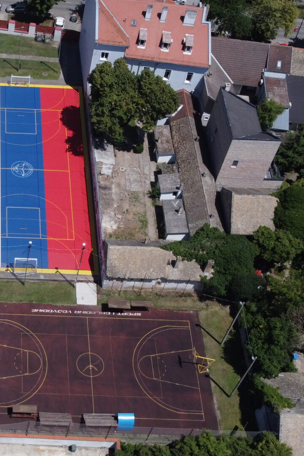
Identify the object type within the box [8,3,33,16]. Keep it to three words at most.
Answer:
vehicle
